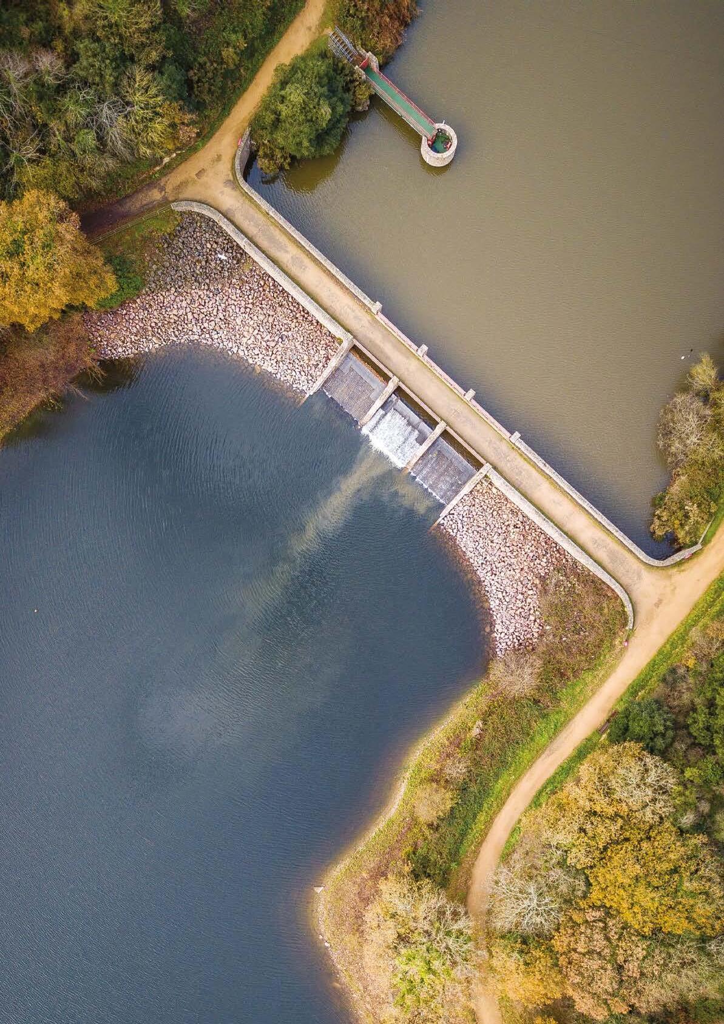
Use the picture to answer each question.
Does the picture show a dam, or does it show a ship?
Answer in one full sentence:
This aerial view contains a dam.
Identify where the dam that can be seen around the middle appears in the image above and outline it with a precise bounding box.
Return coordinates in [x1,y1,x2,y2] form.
[306,296,527,521]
